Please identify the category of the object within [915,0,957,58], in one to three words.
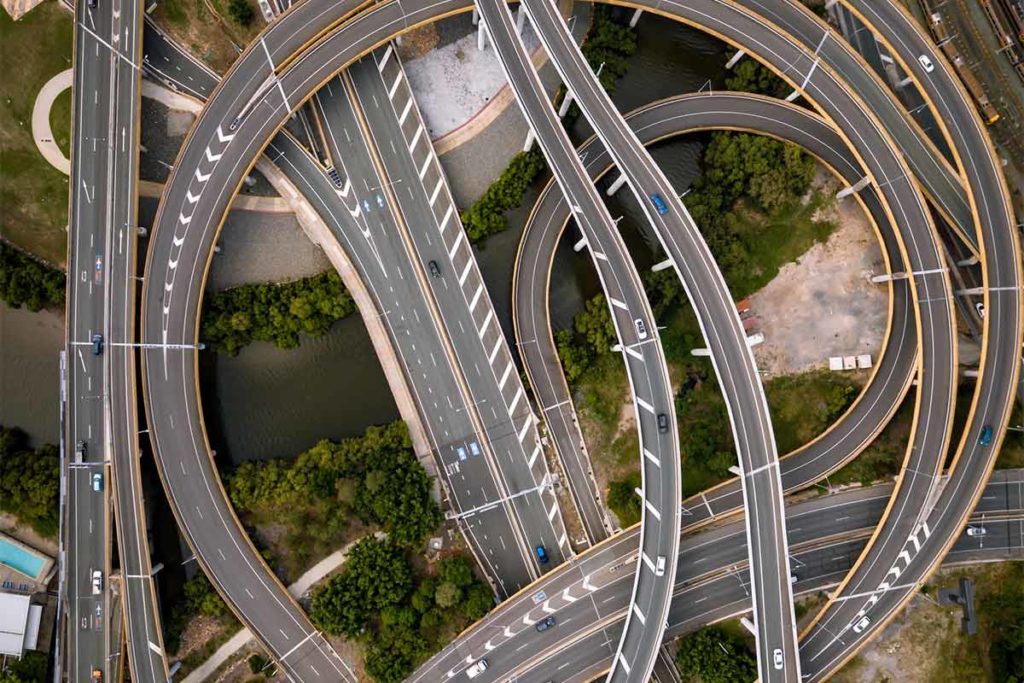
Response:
rail car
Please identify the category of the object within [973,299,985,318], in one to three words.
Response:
vehicle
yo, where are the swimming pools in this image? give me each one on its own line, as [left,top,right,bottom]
[0,535,50,584]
